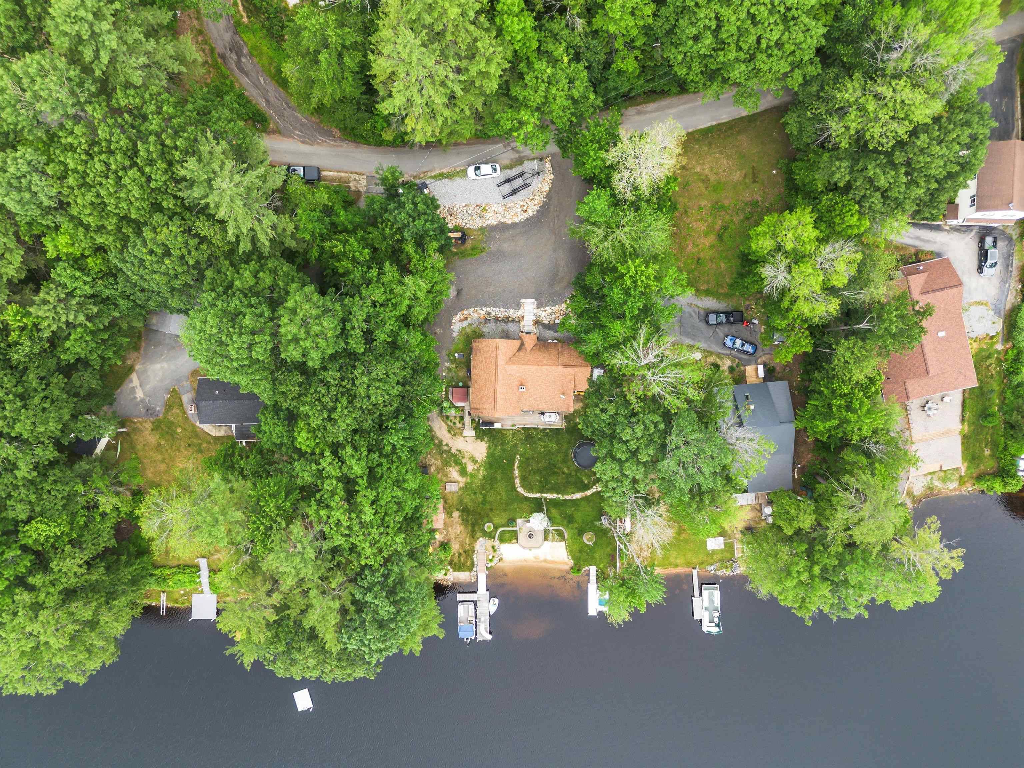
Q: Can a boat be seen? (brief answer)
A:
Yes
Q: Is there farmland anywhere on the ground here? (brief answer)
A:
No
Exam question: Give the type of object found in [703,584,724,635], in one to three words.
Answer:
boat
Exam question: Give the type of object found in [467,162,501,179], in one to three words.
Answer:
car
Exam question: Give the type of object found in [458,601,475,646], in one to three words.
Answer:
boat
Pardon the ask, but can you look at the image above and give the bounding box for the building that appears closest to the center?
[470,332,590,416]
